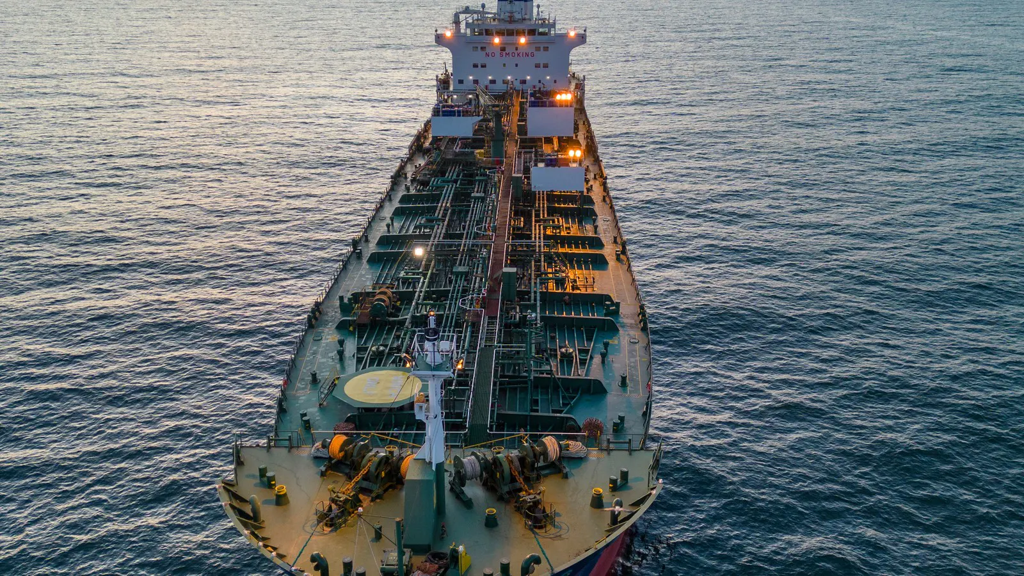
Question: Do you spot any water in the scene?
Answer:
Yes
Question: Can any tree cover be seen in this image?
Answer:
No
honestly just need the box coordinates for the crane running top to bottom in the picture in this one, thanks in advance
[476,83,508,162]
